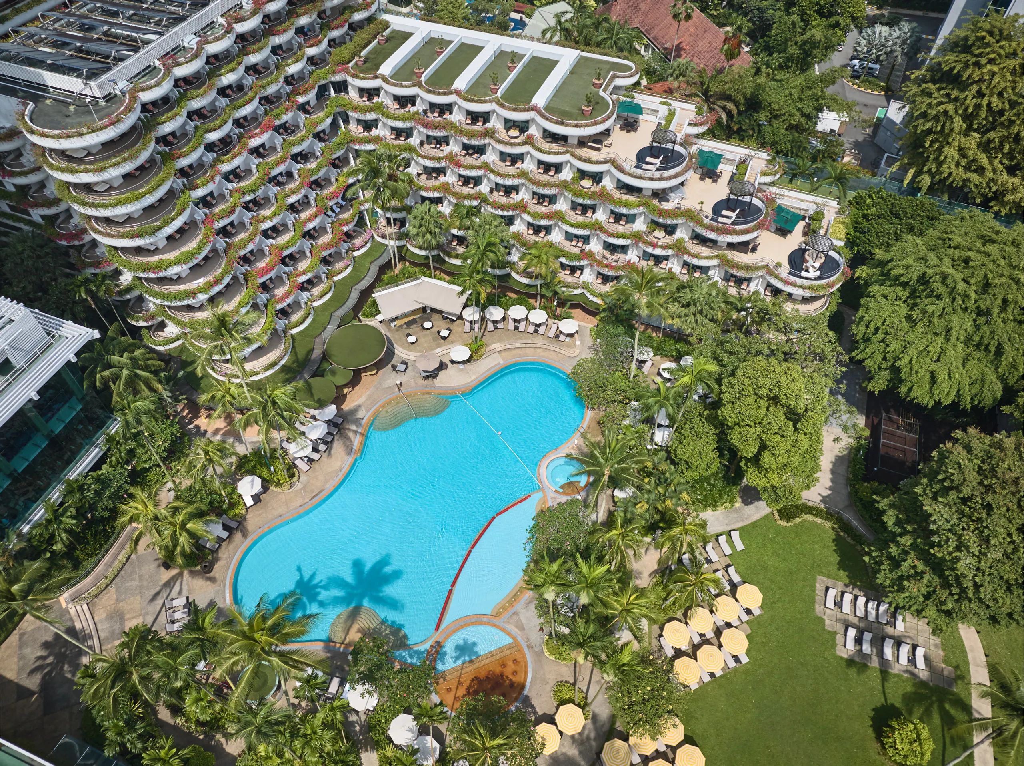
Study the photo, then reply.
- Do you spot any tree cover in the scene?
Yes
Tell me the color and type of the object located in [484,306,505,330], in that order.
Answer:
white umbrella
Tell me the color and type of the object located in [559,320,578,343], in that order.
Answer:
white umbrella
